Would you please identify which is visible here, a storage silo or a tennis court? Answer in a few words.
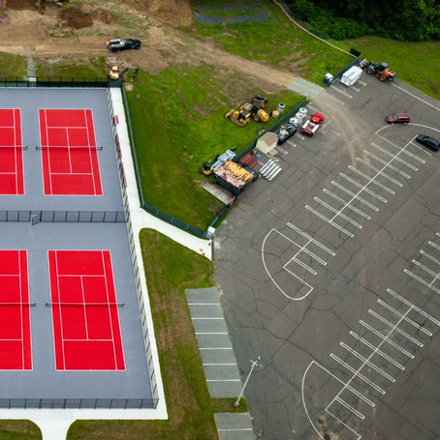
tennis court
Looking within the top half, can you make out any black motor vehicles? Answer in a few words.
Yes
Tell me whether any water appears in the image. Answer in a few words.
No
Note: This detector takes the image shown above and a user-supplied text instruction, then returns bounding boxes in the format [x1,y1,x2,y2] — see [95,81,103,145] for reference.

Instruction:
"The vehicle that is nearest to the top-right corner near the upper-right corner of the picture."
[361,61,391,82]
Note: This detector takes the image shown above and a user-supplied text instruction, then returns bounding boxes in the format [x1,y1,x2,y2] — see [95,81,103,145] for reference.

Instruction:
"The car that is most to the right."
[416,135,440,152]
